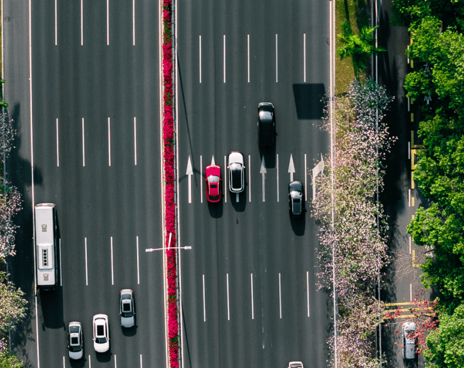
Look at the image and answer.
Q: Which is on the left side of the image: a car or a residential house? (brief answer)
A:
car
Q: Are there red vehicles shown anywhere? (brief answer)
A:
Yes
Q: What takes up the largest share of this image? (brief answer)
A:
paved ground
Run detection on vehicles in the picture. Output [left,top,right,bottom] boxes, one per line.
[67,319,85,360]
[92,313,110,352]
[401,319,419,360]
[33,199,58,291]
[226,151,245,192]
[118,288,136,327]
[257,102,275,145]
[205,164,222,203]
[287,180,303,217]
[286,360,305,368]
